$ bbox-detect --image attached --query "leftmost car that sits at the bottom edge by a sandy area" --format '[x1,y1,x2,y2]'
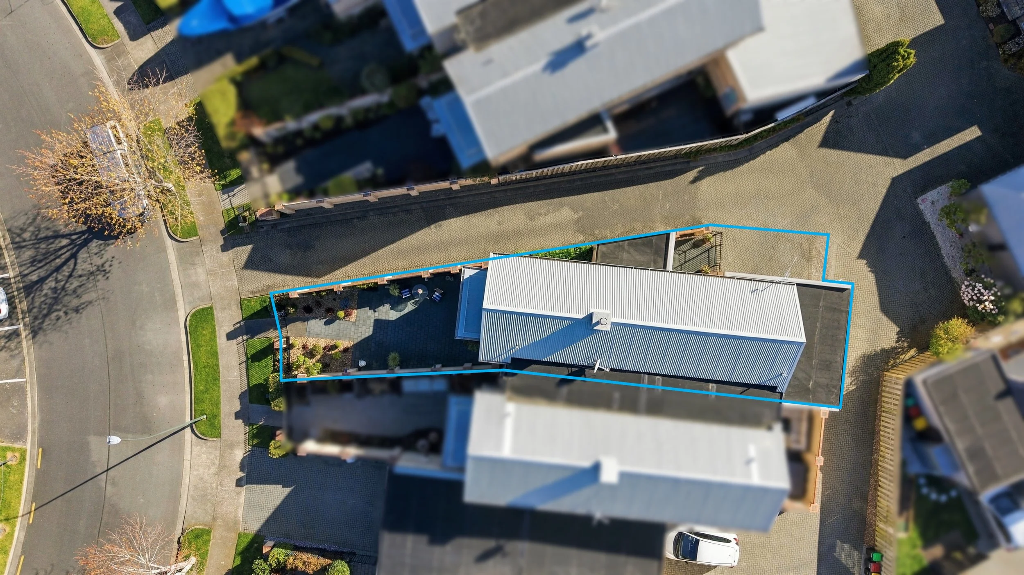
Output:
[666,525,740,571]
